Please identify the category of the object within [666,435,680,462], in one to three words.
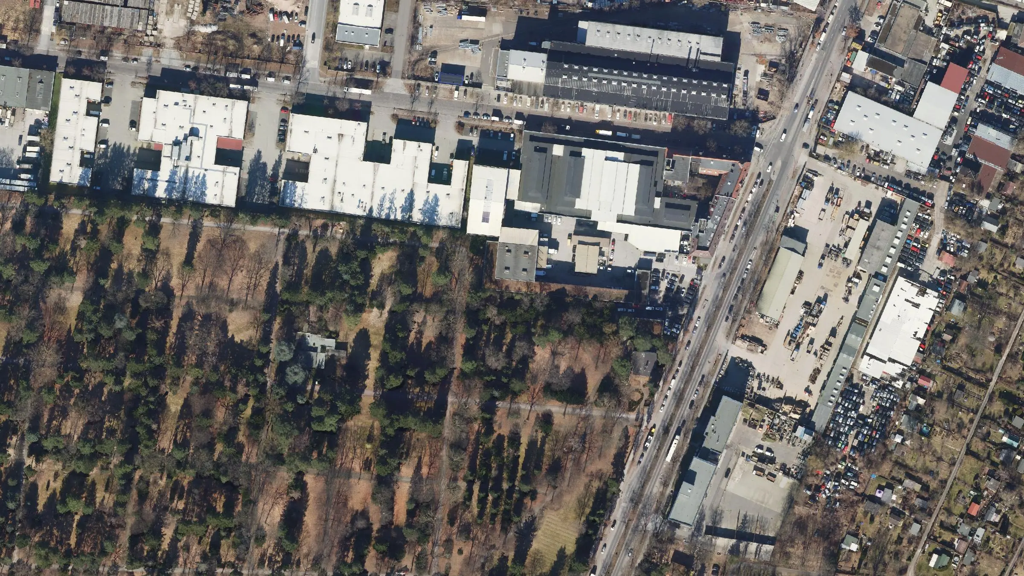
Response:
vehicle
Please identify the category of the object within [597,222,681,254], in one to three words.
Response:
shed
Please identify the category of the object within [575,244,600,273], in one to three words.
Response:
barn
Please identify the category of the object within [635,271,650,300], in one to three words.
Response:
building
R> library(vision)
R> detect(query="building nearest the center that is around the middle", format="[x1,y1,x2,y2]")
[496,227,548,282]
